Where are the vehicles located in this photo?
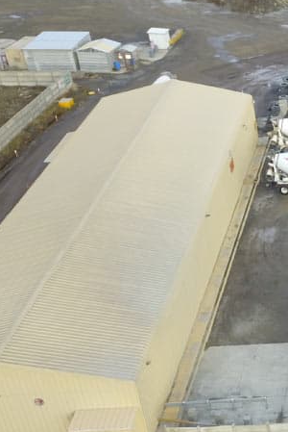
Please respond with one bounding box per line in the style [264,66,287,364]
[268,115,288,150]
[268,146,288,190]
